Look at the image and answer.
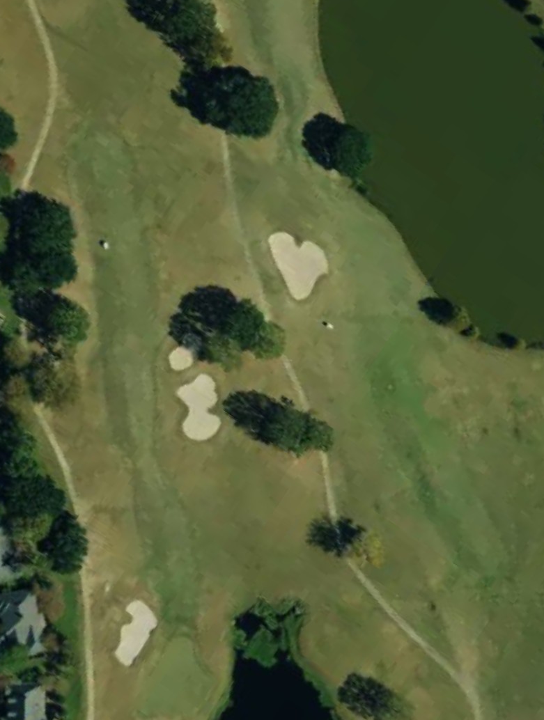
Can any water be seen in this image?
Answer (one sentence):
Yes, water shows up in the scene.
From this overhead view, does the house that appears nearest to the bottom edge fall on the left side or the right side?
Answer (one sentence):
The house that appears nearest to the bottom edge sits on the left side.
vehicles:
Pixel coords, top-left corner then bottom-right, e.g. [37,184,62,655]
[102,241,109,250]
[325,322,334,330]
